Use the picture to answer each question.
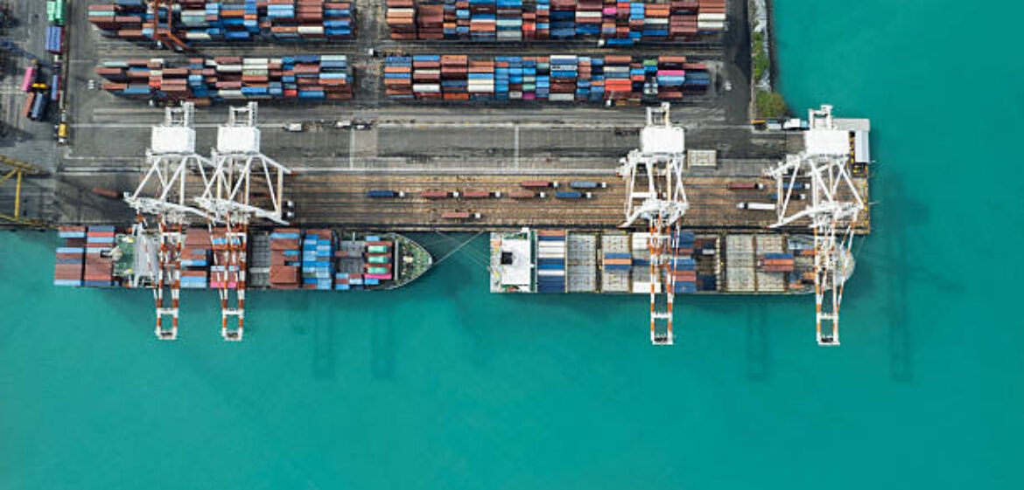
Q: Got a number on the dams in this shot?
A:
0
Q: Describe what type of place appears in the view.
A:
port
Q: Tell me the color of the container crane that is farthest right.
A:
white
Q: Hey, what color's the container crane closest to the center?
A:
white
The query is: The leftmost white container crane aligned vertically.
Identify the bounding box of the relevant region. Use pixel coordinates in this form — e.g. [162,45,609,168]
[128,101,244,341]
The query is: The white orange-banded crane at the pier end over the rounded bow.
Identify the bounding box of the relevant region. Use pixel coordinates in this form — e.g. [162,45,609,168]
[759,106,869,346]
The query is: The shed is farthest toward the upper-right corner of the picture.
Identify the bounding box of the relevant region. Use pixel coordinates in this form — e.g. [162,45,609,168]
[856,130,873,162]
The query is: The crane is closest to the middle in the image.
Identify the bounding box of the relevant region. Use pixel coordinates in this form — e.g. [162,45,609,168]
[615,105,690,345]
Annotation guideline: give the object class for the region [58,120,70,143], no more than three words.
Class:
vehicle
